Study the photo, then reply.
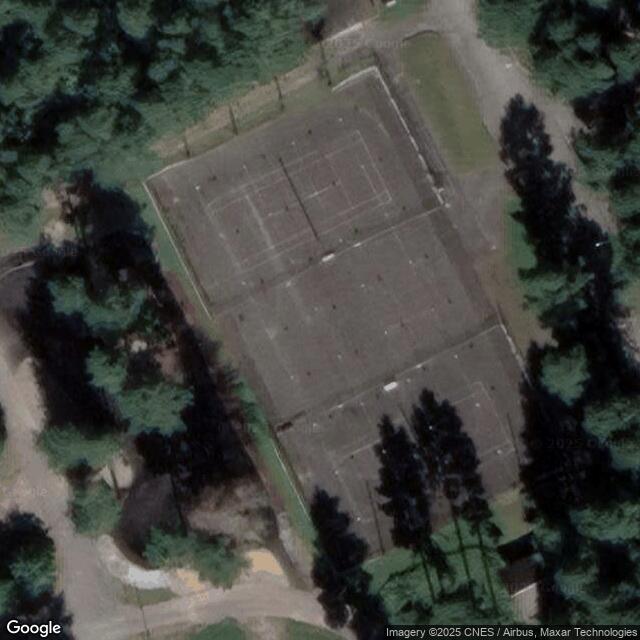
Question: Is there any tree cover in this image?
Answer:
Yes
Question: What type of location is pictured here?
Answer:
sports ground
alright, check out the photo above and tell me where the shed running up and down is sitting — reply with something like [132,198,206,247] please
[499,563,536,639]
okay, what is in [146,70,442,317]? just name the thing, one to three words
tennis court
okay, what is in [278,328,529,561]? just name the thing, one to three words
tennis court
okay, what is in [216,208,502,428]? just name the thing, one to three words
sports court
